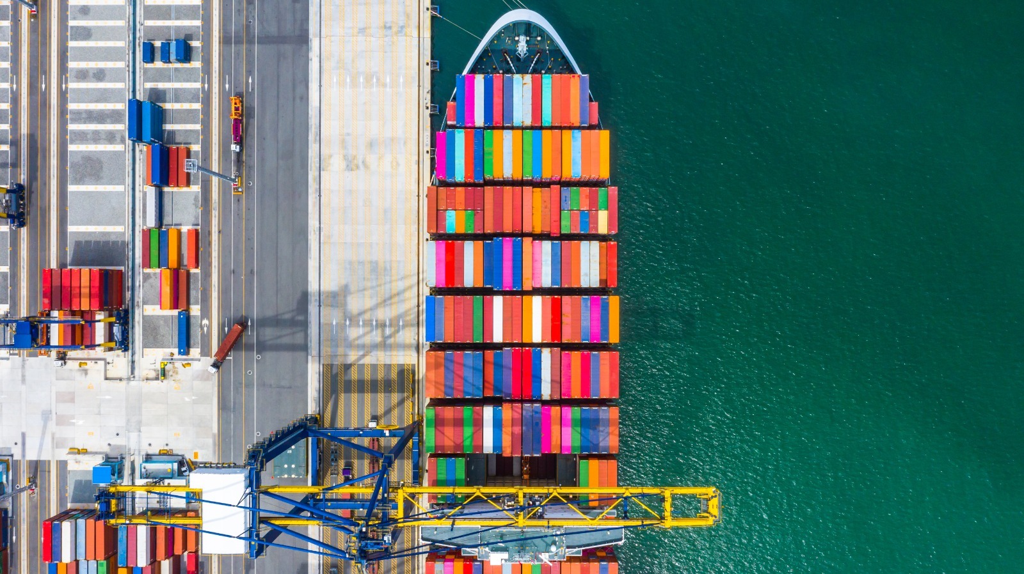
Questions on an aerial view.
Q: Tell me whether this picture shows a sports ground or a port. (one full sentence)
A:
The picture captures a port.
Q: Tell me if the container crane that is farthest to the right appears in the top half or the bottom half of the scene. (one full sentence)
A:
You can find the container crane that is farthest to the right in the bottom half.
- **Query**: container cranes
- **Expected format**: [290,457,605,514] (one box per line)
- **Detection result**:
[0,181,24,225]
[0,308,128,353]
[95,402,726,570]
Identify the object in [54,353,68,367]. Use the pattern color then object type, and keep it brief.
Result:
white vehicle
